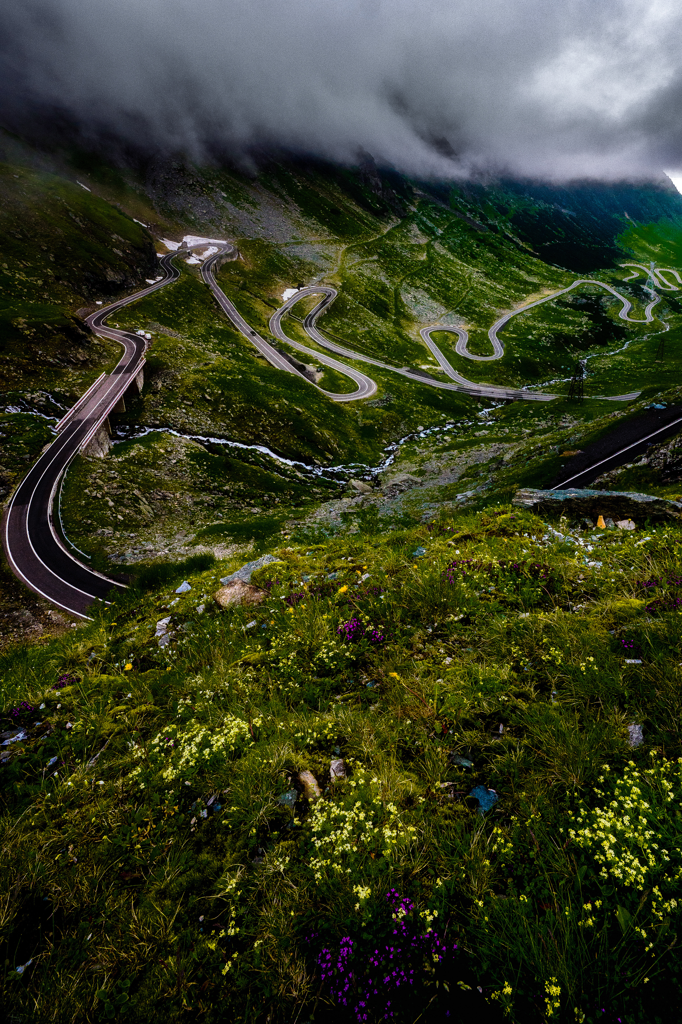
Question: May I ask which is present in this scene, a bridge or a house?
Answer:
bridge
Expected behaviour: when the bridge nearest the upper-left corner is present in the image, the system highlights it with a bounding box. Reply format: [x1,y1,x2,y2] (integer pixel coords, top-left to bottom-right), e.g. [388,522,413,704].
[30,359,148,449]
